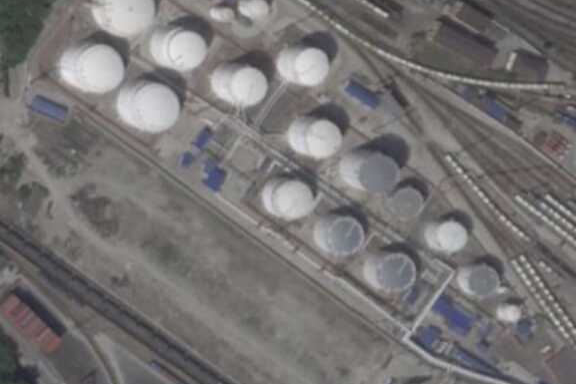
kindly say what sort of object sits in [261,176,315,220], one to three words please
storage tank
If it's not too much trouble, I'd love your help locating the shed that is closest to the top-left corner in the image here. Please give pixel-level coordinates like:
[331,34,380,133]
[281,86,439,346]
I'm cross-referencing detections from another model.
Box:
[28,94,70,122]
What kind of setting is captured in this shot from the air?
industrial area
